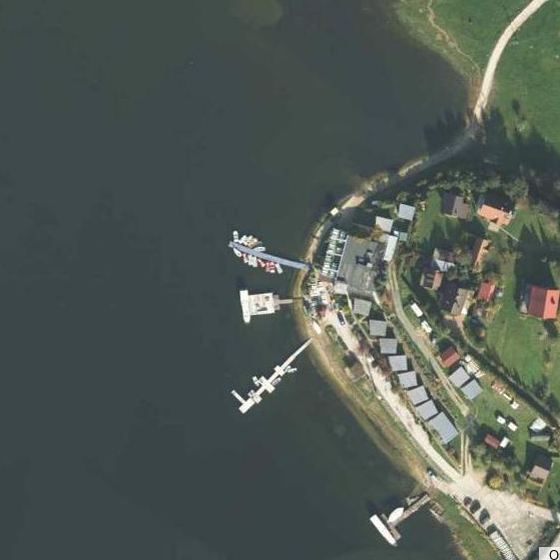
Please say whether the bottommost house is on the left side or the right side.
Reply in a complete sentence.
The bottommost house sits on the right side.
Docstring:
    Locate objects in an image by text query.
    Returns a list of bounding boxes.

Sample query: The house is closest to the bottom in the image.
[528,459,549,481]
